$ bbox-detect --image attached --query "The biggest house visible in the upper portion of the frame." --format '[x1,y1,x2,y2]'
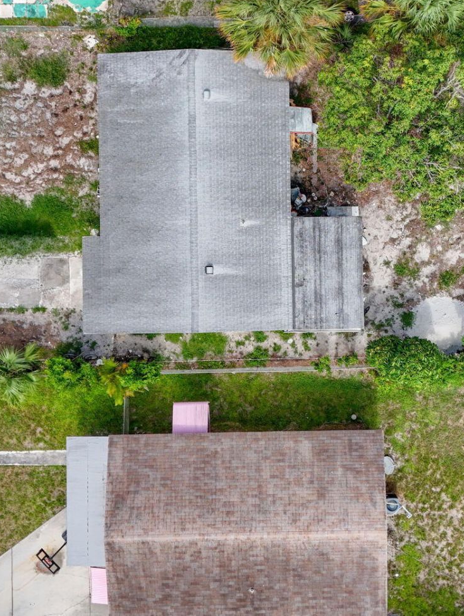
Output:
[83,49,365,335]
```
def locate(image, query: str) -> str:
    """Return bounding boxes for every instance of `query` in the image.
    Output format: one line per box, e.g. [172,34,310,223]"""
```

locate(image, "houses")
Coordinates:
[83,49,365,335]
[65,402,389,616]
